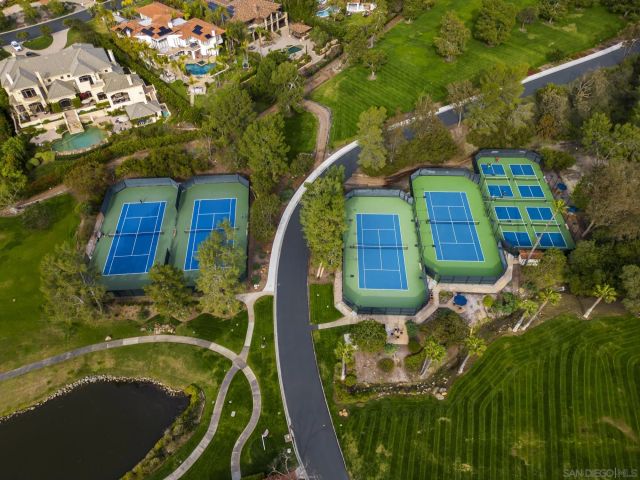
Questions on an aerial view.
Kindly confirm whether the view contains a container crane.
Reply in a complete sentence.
No, there appears to be no container crane in this shot.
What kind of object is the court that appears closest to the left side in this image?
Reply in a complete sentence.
It looks like the court that appears closest to the left side is a tennis court.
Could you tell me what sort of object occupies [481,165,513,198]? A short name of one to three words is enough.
sports court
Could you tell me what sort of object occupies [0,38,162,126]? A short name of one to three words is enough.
house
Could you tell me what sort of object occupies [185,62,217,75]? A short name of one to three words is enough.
swimming pool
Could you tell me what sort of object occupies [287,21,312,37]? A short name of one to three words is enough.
gazebo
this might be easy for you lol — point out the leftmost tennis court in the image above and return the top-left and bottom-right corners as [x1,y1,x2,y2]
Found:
[89,186,179,298]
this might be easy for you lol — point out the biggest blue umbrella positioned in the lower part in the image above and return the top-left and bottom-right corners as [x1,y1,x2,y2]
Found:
[452,291,468,304]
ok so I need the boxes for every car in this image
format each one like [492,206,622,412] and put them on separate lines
[24,50,38,56]
[10,42,21,50]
